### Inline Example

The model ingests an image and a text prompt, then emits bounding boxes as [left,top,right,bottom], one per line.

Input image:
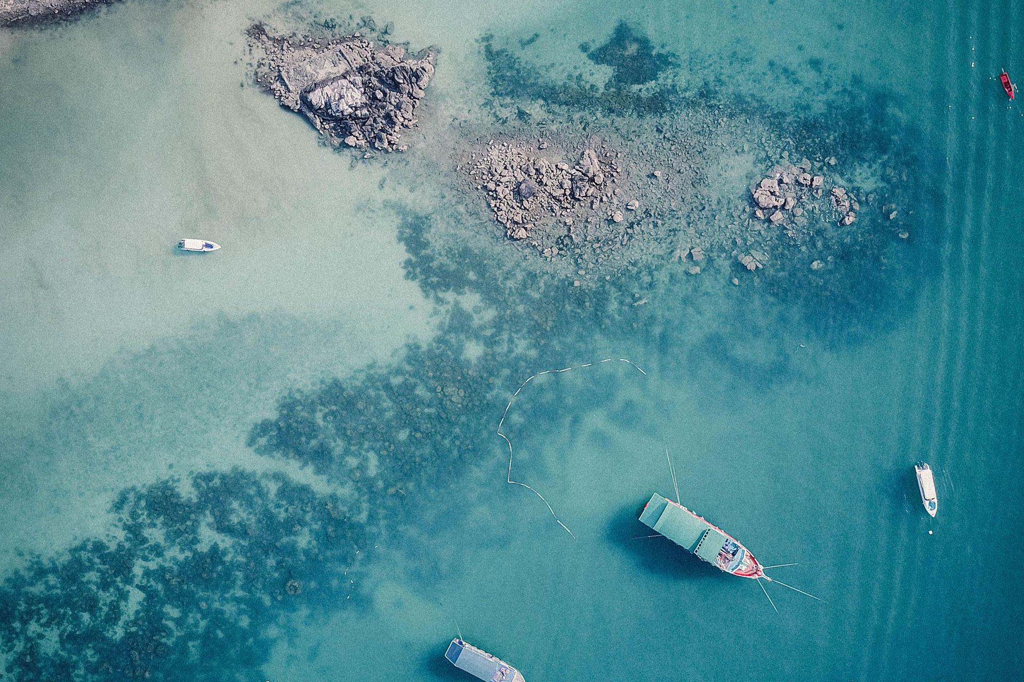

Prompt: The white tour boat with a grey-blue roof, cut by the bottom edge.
[445,635,529,682]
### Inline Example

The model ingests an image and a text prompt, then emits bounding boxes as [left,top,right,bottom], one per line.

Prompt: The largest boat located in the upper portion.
[178,238,222,252]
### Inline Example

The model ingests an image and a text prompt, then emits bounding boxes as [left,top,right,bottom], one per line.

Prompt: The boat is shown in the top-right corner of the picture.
[1000,70,1015,100]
